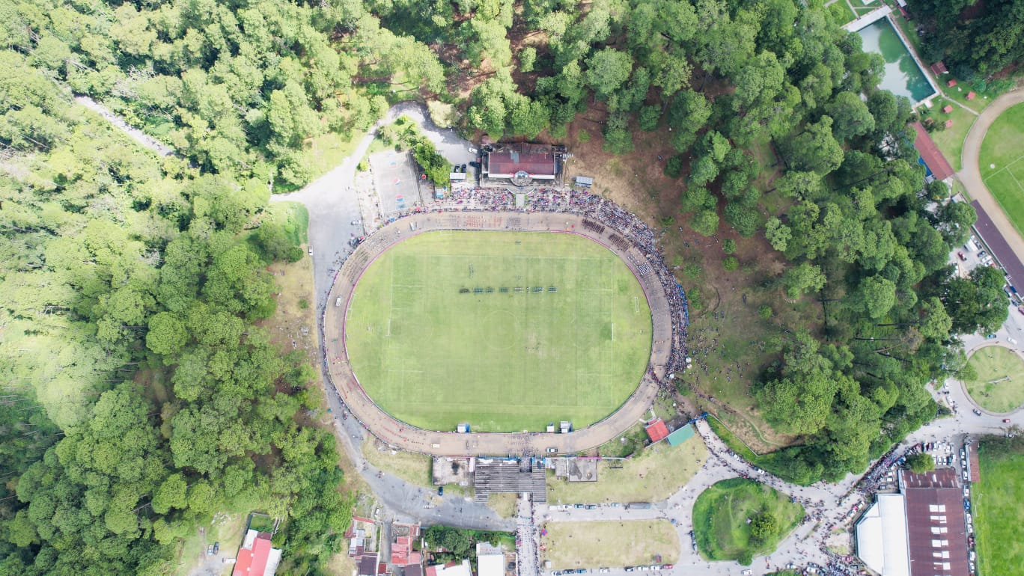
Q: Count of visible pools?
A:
one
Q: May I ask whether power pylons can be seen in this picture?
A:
No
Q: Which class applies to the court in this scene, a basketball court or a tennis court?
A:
basketball court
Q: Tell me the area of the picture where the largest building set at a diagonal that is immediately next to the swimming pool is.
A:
top right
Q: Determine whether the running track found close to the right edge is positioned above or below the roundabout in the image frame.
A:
above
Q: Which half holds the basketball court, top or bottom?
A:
top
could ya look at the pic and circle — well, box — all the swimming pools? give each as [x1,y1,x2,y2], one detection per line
[849,5,939,107]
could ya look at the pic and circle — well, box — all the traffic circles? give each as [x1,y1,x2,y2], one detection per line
[958,341,1024,418]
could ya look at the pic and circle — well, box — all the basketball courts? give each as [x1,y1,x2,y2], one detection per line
[370,150,423,218]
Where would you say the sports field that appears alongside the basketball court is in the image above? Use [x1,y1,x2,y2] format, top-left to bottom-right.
[345,230,652,432]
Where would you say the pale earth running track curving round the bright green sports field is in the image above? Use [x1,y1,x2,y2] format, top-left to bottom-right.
[958,83,1024,281]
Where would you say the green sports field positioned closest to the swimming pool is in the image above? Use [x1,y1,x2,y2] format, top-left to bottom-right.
[979,102,1024,253]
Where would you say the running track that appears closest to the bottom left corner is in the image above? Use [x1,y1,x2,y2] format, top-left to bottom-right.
[323,209,672,456]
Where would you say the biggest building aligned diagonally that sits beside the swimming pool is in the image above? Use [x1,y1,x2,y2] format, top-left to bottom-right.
[899,121,954,182]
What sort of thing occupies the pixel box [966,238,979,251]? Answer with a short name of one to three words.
vehicle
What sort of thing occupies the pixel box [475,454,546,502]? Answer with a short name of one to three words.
building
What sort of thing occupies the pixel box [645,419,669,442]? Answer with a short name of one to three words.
house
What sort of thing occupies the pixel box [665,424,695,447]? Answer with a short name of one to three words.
building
